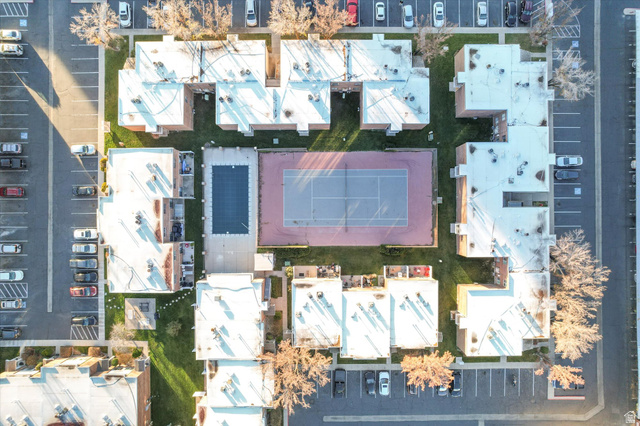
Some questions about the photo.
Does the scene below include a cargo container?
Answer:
No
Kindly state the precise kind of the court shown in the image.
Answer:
tennis court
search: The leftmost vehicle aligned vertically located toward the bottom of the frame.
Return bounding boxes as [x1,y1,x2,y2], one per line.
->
[334,367,346,398]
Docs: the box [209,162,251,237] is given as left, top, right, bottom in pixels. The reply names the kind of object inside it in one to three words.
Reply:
swimming pool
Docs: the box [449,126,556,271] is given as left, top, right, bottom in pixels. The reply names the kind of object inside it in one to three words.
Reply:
building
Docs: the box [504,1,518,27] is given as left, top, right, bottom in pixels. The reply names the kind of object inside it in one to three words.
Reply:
vehicle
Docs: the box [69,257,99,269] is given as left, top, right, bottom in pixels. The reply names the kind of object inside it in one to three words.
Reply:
vehicle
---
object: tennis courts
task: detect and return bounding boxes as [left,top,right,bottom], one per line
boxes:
[259,150,433,246]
